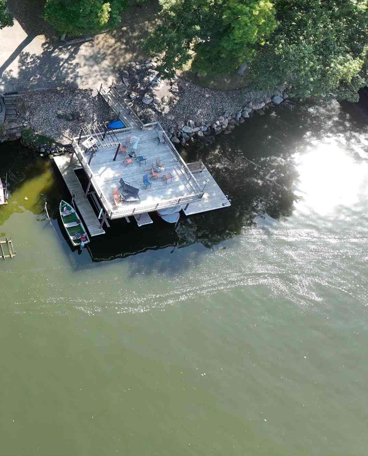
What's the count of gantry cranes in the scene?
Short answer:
0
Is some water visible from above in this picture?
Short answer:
Yes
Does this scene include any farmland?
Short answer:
No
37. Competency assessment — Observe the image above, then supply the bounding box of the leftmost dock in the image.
[53,152,106,241]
